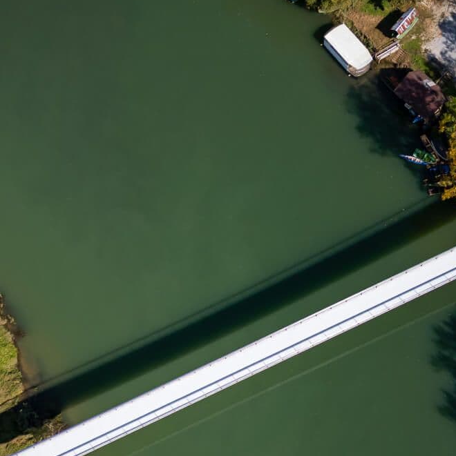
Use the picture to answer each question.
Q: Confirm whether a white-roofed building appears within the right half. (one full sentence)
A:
No, no white-roofed building can be made out within the right half.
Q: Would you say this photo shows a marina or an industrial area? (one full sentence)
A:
It's a marina.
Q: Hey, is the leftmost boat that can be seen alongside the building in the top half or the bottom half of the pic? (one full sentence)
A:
It is in the top half that the leftmost boat that can be seen alongside the building appears.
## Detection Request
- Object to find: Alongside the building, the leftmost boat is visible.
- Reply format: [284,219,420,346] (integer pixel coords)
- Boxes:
[323,22,372,80]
